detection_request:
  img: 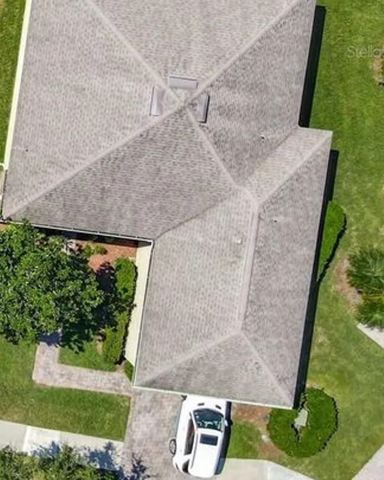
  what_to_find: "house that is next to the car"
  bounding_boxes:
[0,0,334,412]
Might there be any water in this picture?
No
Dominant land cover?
buildings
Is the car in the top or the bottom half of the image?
bottom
